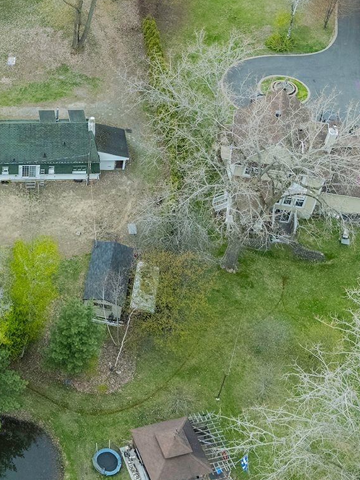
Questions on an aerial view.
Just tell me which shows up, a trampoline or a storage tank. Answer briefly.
trampoline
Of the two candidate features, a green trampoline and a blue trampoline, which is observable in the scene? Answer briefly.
blue trampoline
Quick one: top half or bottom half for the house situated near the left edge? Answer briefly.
top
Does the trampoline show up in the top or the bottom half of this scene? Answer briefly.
bottom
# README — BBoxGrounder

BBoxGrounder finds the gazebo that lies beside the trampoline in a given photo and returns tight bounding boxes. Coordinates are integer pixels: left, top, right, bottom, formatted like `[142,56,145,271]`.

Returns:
[130,417,213,480]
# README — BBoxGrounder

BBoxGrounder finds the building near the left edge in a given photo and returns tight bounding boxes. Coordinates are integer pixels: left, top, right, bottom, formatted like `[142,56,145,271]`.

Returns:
[0,108,139,195]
